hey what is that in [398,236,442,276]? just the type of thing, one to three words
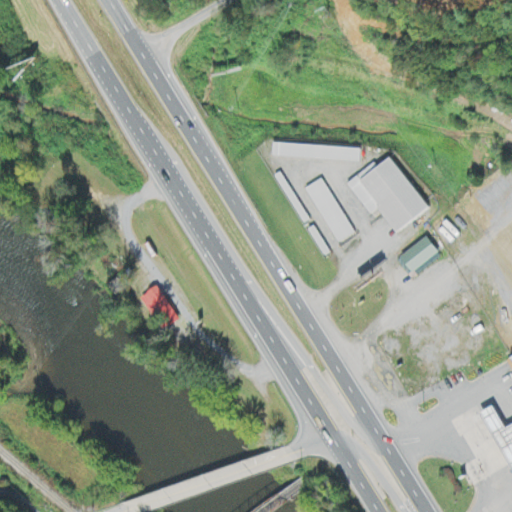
building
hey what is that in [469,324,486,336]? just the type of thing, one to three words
vehicle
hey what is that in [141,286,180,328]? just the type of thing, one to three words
house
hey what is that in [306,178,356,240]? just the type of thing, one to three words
building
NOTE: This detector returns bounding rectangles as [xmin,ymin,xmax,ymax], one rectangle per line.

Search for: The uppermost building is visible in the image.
[272,142,362,161]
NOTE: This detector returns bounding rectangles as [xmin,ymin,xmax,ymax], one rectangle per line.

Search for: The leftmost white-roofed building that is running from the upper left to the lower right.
[276,171,310,221]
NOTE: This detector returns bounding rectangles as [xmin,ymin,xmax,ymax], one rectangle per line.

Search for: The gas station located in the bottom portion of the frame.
[481,406,512,461]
